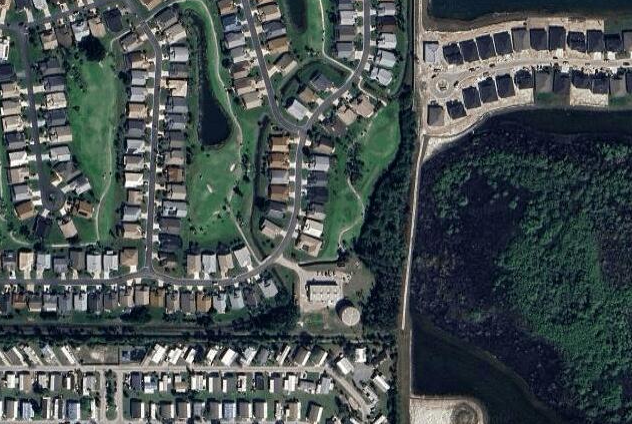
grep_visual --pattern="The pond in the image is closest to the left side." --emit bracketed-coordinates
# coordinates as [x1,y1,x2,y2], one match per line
[192,12,230,145]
